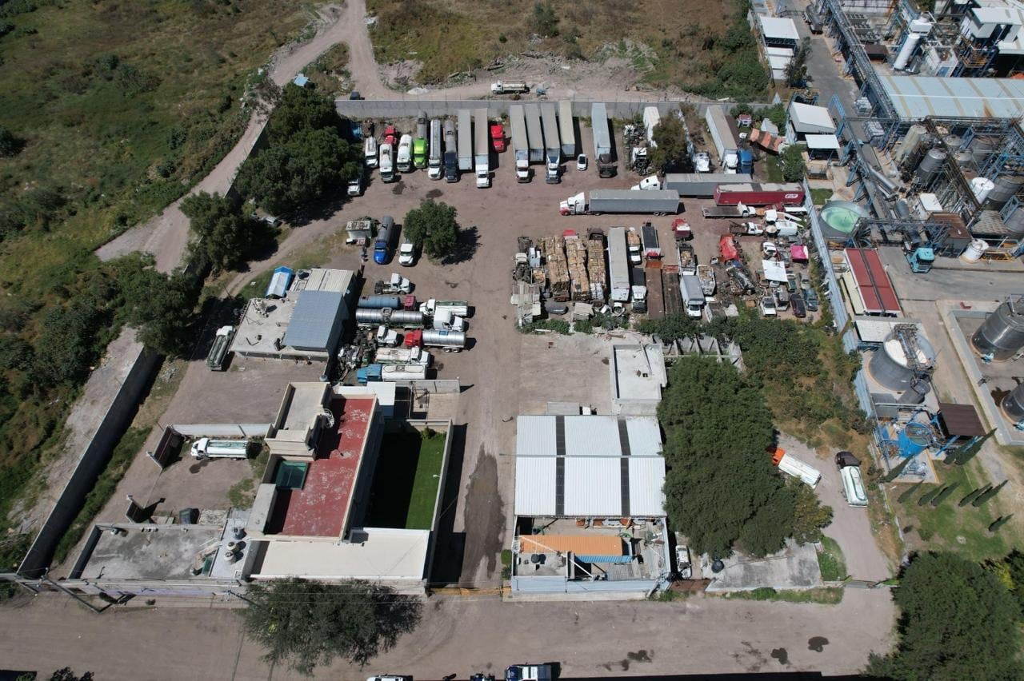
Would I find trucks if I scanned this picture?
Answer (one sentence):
Yes, there is a truck in the image.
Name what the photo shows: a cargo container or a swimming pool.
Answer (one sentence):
It is a cargo container that can be seen here.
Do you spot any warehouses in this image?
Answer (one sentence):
Yes, there is a warehouse in the image.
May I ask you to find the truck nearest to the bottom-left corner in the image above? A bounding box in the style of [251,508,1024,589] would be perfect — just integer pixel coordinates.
[187,441,251,465]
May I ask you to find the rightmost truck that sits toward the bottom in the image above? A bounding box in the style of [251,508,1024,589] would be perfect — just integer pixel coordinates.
[836,450,877,508]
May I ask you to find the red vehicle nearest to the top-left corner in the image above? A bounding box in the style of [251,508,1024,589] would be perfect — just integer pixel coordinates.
[382,121,398,147]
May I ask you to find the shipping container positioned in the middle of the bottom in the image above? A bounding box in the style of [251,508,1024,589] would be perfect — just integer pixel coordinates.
[525,536,630,561]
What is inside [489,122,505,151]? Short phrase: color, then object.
red vehicle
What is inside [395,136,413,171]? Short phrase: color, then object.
white vehicle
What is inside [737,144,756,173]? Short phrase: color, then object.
blue vehicle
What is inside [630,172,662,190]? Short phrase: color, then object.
white vehicle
